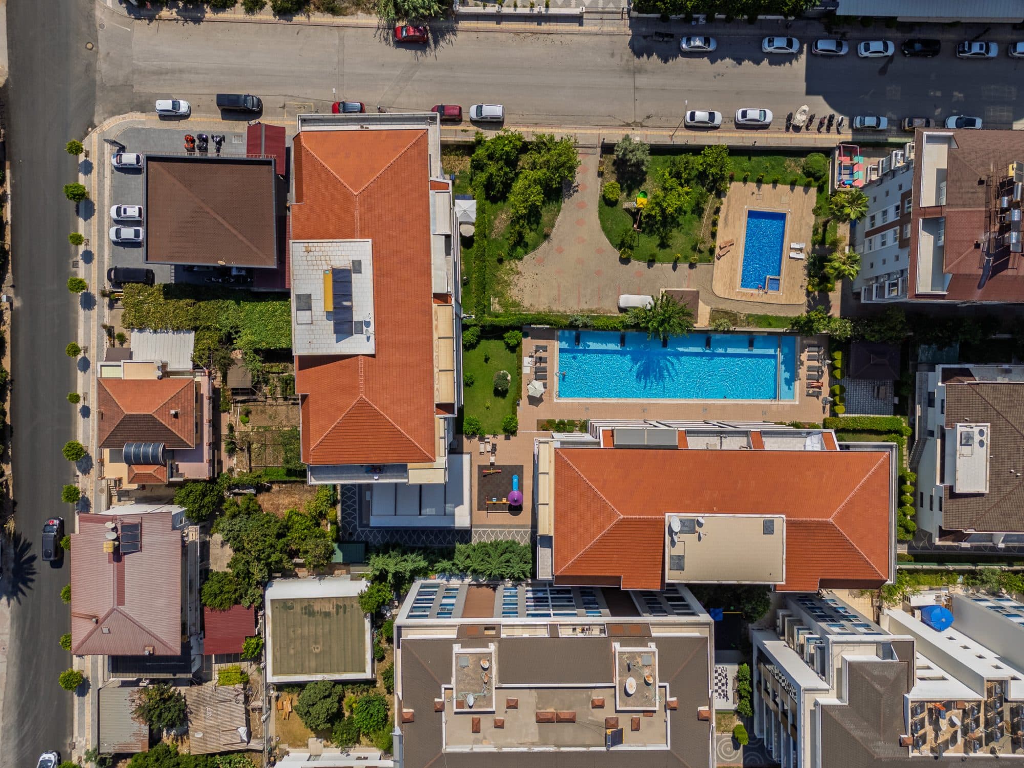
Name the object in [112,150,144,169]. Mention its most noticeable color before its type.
white car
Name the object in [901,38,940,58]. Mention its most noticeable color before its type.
black car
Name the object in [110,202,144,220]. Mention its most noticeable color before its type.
white car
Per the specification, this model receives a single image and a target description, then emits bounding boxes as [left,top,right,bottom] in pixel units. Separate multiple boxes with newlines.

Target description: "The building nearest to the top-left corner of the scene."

[142,153,285,269]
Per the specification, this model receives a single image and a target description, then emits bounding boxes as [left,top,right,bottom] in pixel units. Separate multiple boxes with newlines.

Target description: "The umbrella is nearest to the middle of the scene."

[527,378,546,397]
